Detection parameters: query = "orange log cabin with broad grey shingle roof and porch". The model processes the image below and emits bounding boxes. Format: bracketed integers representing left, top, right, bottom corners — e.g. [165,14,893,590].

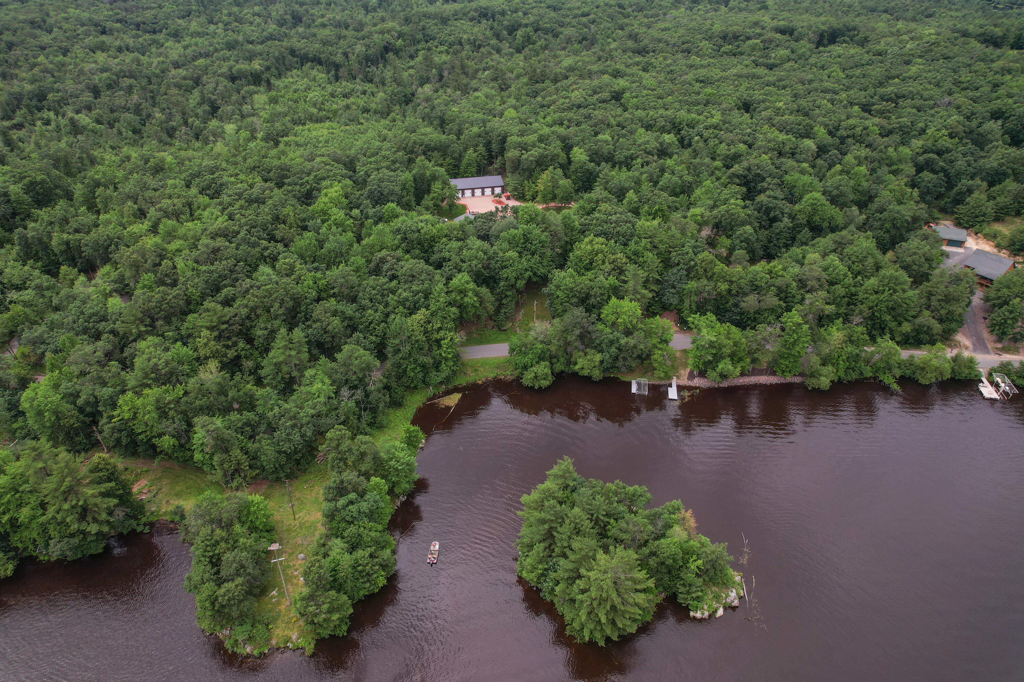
[953,249,1017,284]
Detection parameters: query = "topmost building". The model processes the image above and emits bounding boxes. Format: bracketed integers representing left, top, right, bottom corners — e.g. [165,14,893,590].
[447,175,505,197]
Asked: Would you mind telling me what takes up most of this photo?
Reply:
trees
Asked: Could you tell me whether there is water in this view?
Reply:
Yes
